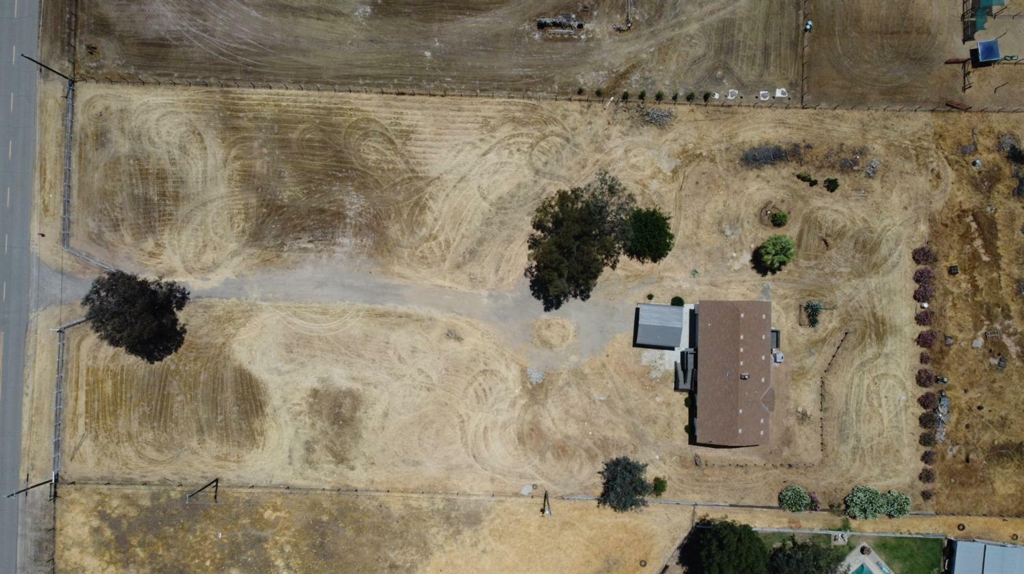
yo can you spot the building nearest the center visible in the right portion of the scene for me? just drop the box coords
[635,304,683,347]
